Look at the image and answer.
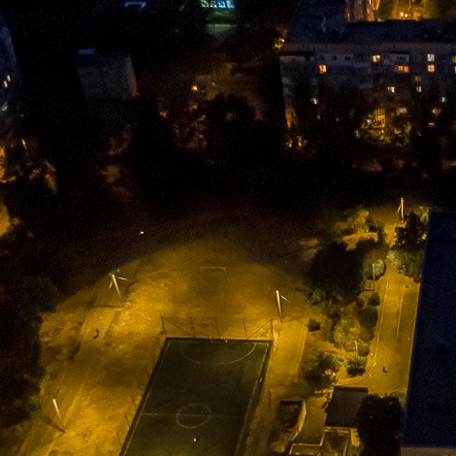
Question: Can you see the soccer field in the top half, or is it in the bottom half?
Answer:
bottom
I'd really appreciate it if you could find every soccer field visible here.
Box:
[118,335,273,456]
